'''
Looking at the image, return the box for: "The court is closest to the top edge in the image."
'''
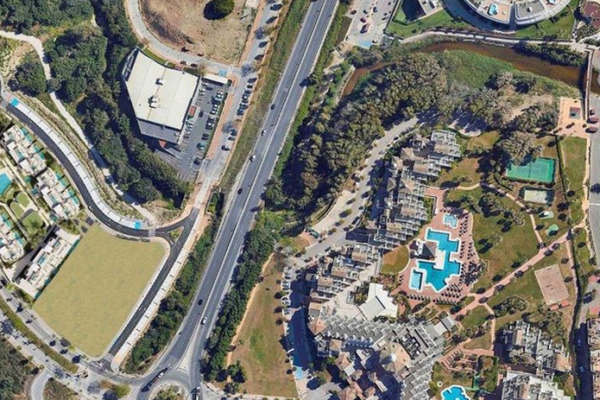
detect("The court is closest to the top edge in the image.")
[506,156,556,182]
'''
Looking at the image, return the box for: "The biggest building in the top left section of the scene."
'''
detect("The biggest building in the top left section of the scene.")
[122,49,198,148]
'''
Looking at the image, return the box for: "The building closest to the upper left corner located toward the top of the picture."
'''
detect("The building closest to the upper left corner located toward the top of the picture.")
[3,121,53,175]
